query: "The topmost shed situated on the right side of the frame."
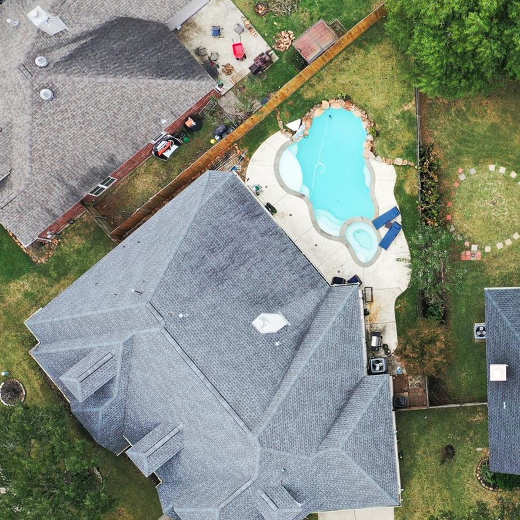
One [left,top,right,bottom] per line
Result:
[292,19,340,64]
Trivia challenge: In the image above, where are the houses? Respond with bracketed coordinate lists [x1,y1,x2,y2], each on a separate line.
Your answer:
[0,0,225,248]
[484,286,520,475]
[22,169,402,520]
